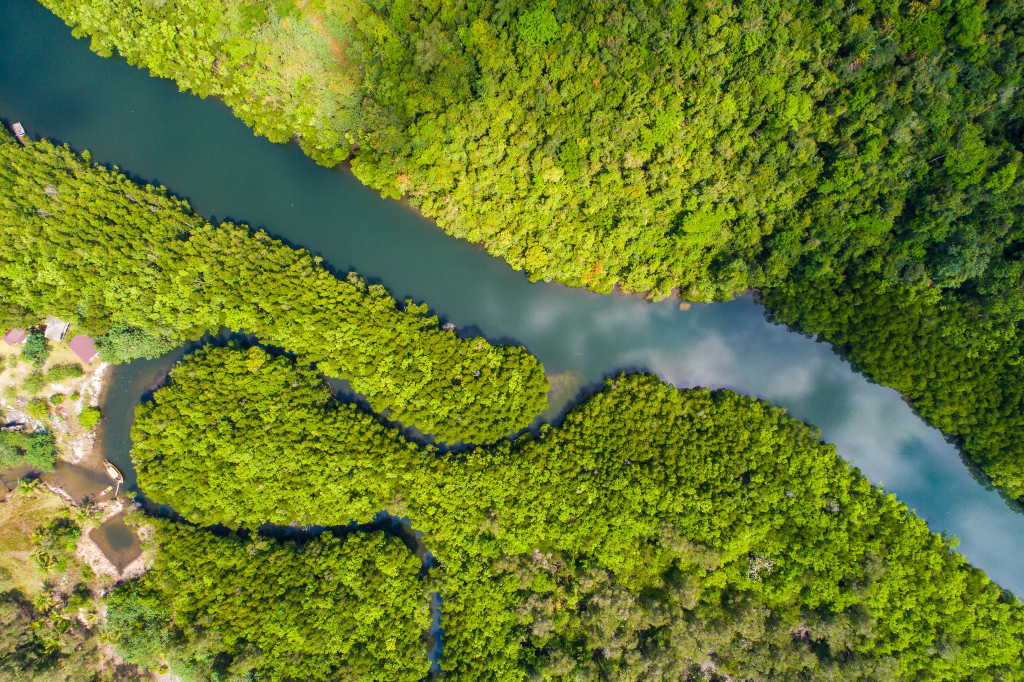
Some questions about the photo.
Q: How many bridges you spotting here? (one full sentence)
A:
Not a single bridge can be seen.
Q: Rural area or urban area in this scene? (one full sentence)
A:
The area shown here is rural.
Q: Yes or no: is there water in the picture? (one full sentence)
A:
Yes, water can be seen from above here.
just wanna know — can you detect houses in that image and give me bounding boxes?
[68,339,96,366]
[4,325,32,346]
[43,317,70,343]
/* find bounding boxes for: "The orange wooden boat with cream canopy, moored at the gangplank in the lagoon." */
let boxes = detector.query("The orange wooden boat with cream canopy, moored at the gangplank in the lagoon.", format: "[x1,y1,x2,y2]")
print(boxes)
[103,458,123,485]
